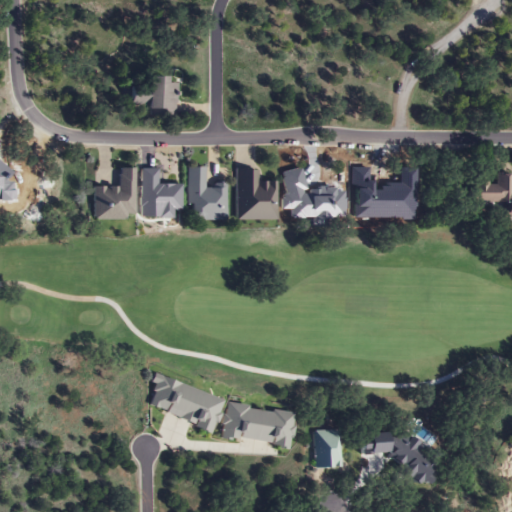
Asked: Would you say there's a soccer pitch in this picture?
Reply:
No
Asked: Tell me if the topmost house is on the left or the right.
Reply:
left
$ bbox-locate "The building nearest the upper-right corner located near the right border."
[480,173,512,204]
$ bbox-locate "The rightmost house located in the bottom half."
[374,432,438,486]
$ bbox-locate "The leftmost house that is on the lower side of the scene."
[149,372,224,434]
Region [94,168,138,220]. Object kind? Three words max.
house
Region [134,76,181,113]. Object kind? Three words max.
house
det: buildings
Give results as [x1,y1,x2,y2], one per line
[282,168,348,218]
[312,430,344,468]
[94,168,138,220]
[235,168,279,220]
[134,76,181,113]
[480,173,512,204]
[374,432,438,486]
[149,372,224,434]
[350,167,419,218]
[220,402,296,450]
[188,166,230,220]
[142,168,184,218]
